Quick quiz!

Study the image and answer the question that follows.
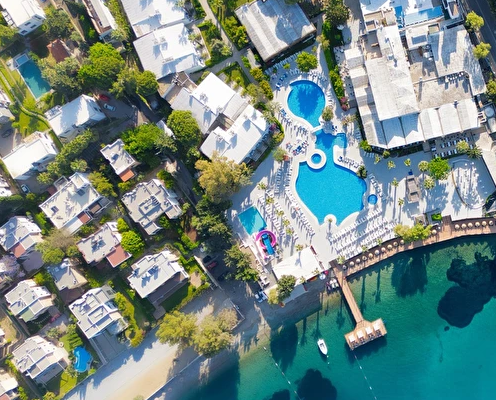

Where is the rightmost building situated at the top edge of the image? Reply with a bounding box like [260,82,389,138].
[344,0,485,149]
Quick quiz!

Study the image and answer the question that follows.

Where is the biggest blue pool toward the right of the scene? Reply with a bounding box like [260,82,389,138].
[284,77,369,230]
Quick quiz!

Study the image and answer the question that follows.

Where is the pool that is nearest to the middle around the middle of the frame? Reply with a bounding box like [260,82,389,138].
[235,205,267,236]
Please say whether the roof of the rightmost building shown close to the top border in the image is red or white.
white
